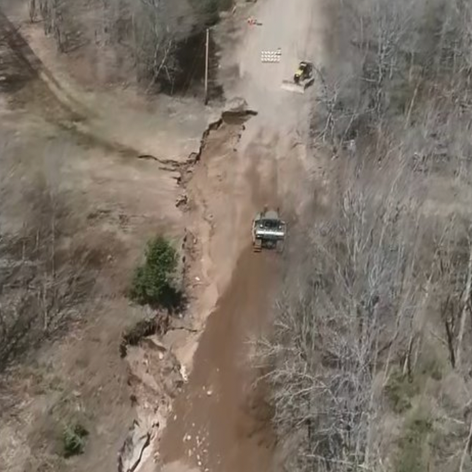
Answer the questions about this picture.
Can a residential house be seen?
No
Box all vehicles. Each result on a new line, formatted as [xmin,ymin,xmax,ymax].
[286,59,319,93]
[252,205,285,250]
